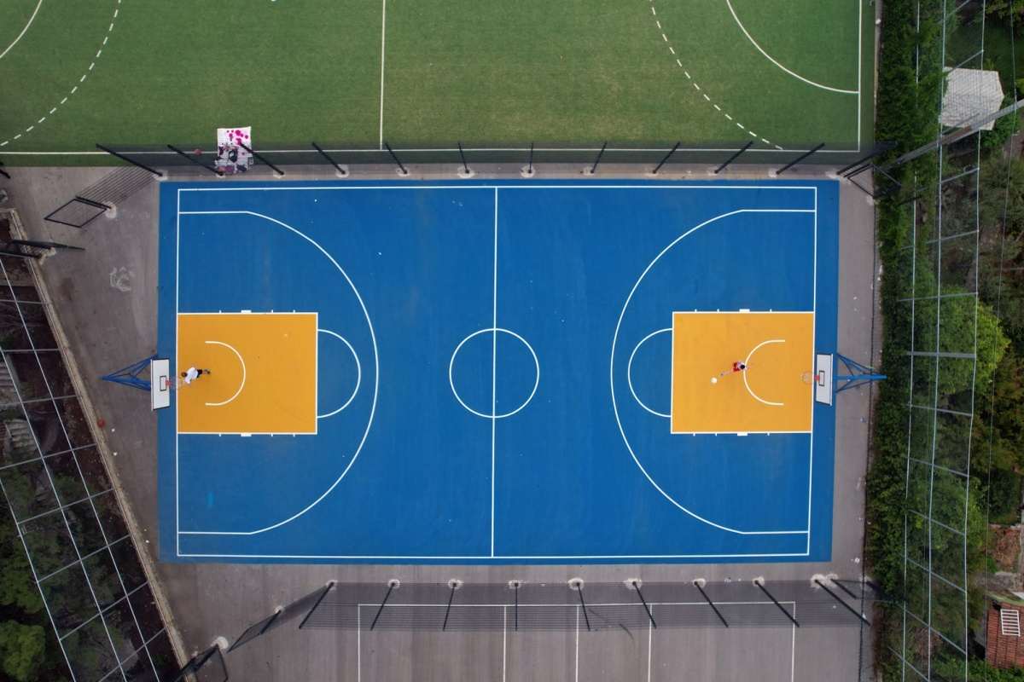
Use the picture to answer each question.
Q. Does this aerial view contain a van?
No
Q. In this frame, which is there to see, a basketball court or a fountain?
basketball court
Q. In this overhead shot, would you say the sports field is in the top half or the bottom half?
top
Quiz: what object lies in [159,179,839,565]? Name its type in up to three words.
basketball court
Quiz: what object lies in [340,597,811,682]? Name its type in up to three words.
sports court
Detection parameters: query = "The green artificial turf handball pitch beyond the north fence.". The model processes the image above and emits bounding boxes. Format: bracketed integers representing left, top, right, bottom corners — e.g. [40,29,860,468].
[0,0,876,165]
